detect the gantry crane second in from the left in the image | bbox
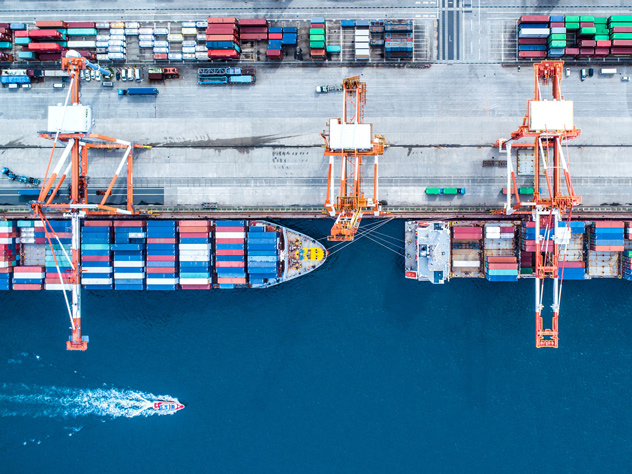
[319,72,391,245]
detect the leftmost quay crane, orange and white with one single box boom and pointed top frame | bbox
[25,51,153,351]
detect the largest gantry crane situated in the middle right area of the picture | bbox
[490,60,584,349]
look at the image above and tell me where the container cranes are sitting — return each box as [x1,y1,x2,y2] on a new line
[25,51,153,351]
[319,72,391,245]
[490,60,584,349]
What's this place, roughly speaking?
port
